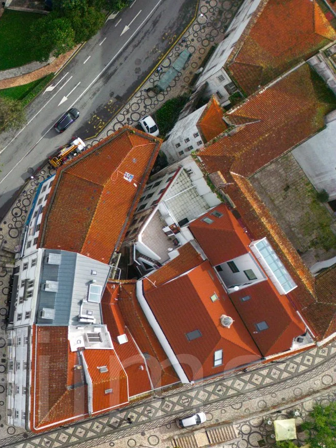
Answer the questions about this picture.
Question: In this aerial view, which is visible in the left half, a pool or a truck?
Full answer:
It is a truck that can be seen in the left half.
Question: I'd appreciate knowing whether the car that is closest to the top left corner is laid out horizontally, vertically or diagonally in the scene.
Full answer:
The car that is closest to the top left corner is laid out diagonally.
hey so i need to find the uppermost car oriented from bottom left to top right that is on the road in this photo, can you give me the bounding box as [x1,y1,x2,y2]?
[52,107,78,135]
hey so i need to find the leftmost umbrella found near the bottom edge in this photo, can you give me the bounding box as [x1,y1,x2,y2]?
[270,418,294,441]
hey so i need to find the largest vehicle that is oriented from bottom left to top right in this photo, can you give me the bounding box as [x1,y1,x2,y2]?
[47,135,88,170]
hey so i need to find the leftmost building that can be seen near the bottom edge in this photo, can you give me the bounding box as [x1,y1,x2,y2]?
[11,325,90,433]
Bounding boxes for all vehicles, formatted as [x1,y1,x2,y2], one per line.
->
[47,135,88,170]
[176,412,205,429]
[52,107,78,135]
[138,112,158,137]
